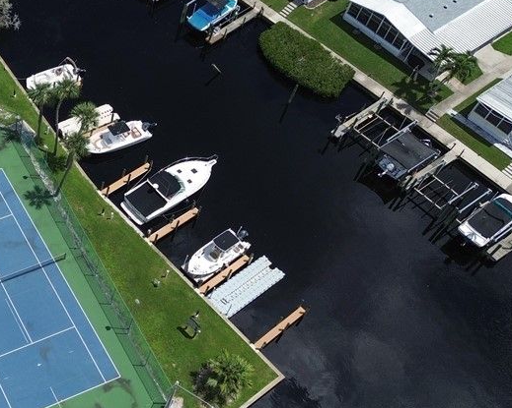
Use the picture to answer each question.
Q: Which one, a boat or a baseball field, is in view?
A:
boat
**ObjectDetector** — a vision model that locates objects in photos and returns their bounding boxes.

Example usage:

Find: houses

[344,0,512,82]
[468,70,512,141]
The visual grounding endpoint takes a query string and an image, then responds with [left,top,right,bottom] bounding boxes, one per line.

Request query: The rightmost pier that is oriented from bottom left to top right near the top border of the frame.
[203,2,265,50]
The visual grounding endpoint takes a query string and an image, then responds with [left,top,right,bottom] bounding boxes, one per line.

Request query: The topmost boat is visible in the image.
[185,0,238,35]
